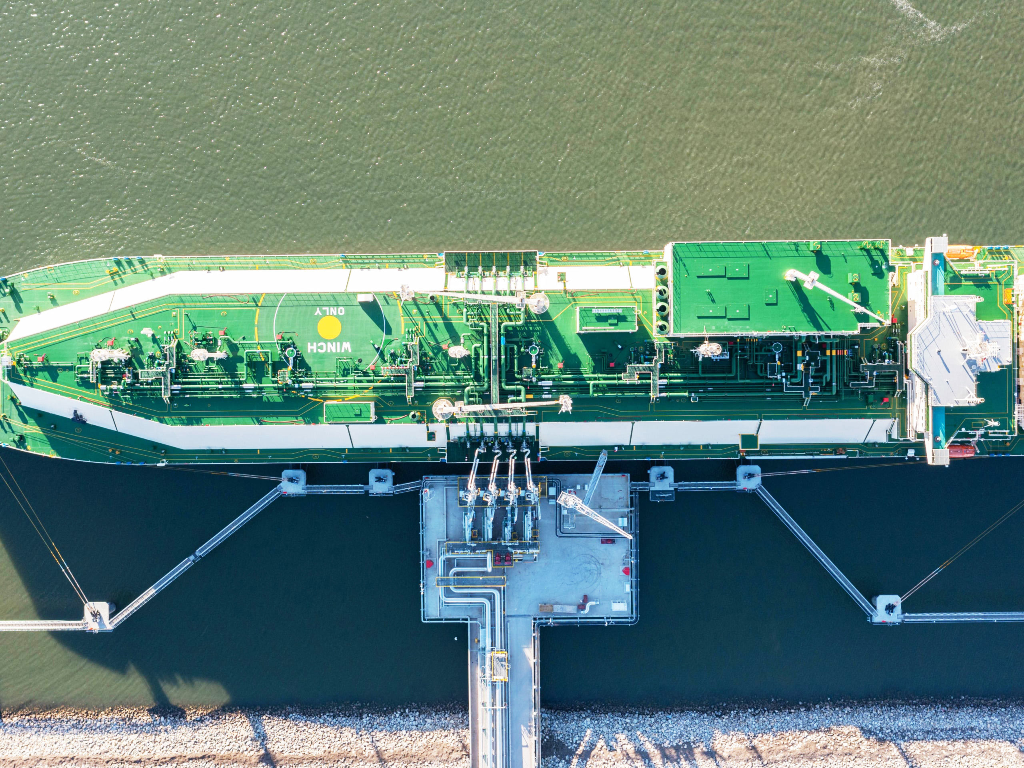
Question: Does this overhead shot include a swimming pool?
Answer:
No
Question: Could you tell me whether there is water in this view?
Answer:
Yes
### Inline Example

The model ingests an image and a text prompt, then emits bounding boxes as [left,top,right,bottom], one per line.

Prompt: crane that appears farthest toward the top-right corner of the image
[782,270,891,327]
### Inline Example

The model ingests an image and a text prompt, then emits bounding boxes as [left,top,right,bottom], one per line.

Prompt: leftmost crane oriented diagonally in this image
[552,485,632,539]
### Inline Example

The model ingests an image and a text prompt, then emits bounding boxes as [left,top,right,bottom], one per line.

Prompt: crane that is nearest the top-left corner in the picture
[416,291,550,317]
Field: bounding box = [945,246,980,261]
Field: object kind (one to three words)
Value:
boat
